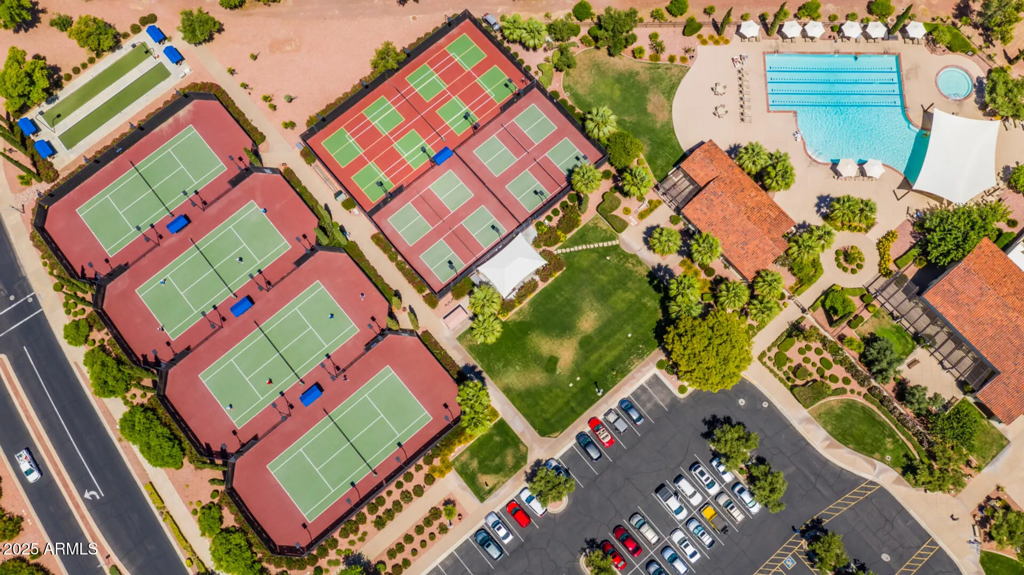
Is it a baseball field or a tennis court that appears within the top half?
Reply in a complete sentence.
It is a tennis court that can be seen within the top half.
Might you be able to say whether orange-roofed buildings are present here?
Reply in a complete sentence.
Yes, the photo shows an orange-roofed building.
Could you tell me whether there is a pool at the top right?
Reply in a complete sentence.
Yes, a pool shows up at the top right.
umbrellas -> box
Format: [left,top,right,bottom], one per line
[803,20,825,41]
[862,159,885,181]
[865,21,888,40]
[839,20,863,40]
[836,158,860,179]
[738,20,761,40]
[904,20,926,41]
[780,20,803,40]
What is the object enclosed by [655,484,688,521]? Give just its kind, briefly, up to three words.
vehicle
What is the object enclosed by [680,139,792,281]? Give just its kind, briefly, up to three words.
building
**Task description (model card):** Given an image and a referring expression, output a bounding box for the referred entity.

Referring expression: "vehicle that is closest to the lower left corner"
[13,448,41,483]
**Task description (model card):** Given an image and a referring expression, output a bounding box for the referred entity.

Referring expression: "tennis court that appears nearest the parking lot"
[233,335,461,554]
